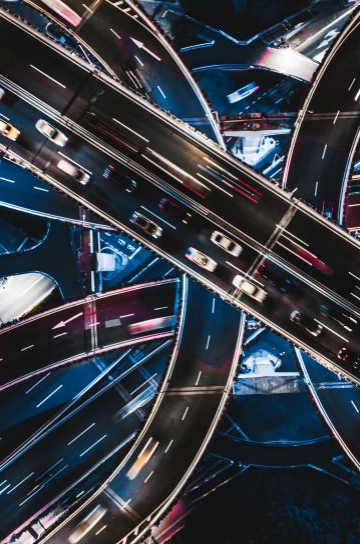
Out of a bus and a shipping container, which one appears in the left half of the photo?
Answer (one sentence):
The feature located in the left half of the photo is a bus.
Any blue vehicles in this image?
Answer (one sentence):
Yes, I can see a blue vehicle in this picture.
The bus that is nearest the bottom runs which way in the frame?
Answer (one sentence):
Seen from above, the bus that is nearest the bottom lies diagonally.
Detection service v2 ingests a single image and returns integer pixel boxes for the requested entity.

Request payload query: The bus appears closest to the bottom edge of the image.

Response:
[70,499,108,543]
